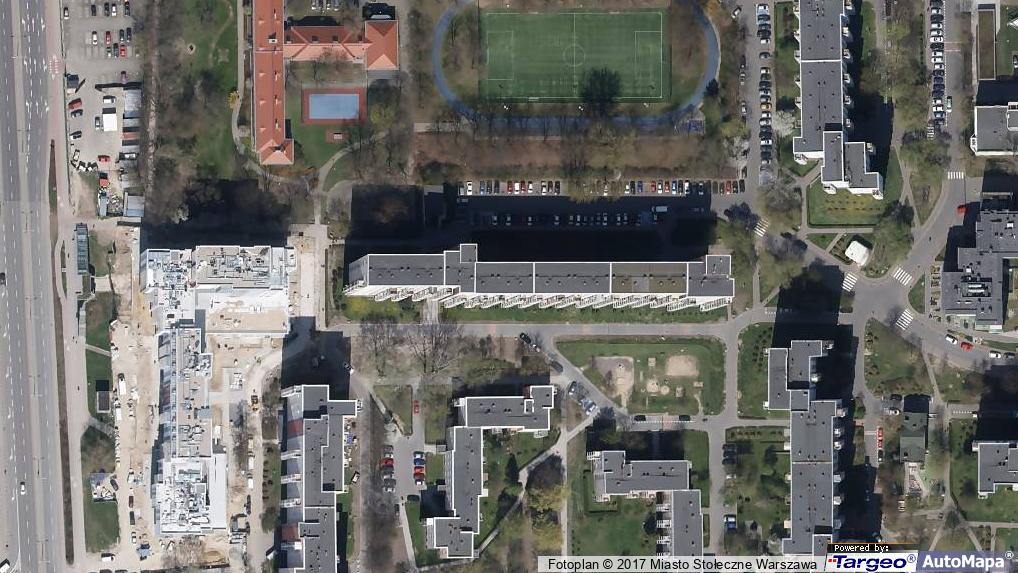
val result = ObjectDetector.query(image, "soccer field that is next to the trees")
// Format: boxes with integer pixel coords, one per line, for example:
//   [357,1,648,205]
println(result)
[479,8,672,102]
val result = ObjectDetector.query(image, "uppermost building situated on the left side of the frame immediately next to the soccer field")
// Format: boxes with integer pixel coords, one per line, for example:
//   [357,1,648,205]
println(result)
[252,0,398,165]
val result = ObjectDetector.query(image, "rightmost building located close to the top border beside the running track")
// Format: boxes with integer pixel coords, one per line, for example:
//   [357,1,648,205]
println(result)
[778,0,879,202]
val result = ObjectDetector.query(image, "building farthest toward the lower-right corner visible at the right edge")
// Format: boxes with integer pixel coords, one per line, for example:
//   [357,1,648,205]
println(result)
[957,444,1018,504]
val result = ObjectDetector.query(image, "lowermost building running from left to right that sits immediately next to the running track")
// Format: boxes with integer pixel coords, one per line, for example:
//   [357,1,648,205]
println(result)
[354,245,734,311]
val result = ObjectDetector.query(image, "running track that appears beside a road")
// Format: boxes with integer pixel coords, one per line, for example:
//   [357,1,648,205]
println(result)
[432,0,718,126]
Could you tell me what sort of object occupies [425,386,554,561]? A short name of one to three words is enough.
building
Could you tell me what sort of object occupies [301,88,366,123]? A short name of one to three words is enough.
sports court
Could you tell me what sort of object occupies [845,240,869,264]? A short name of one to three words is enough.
building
